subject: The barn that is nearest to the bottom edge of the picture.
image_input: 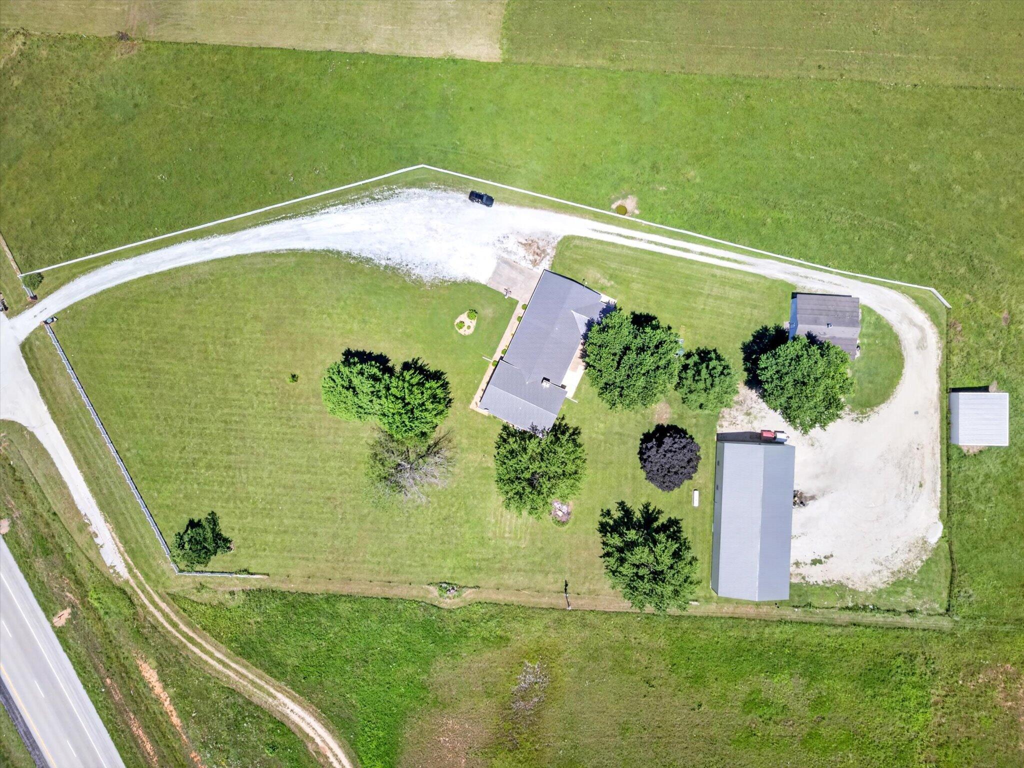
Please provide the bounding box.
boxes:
[711,441,797,601]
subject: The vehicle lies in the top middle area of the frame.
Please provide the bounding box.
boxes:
[468,190,495,207]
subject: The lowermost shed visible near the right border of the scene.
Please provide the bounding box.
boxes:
[951,392,1009,446]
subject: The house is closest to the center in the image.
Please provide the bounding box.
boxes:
[478,270,617,439]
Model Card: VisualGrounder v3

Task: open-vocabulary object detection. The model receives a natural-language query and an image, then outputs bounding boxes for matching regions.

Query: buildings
[478,270,617,439]
[951,392,1009,446]
[711,441,797,601]
[788,295,859,362]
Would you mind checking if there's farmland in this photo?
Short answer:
Yes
